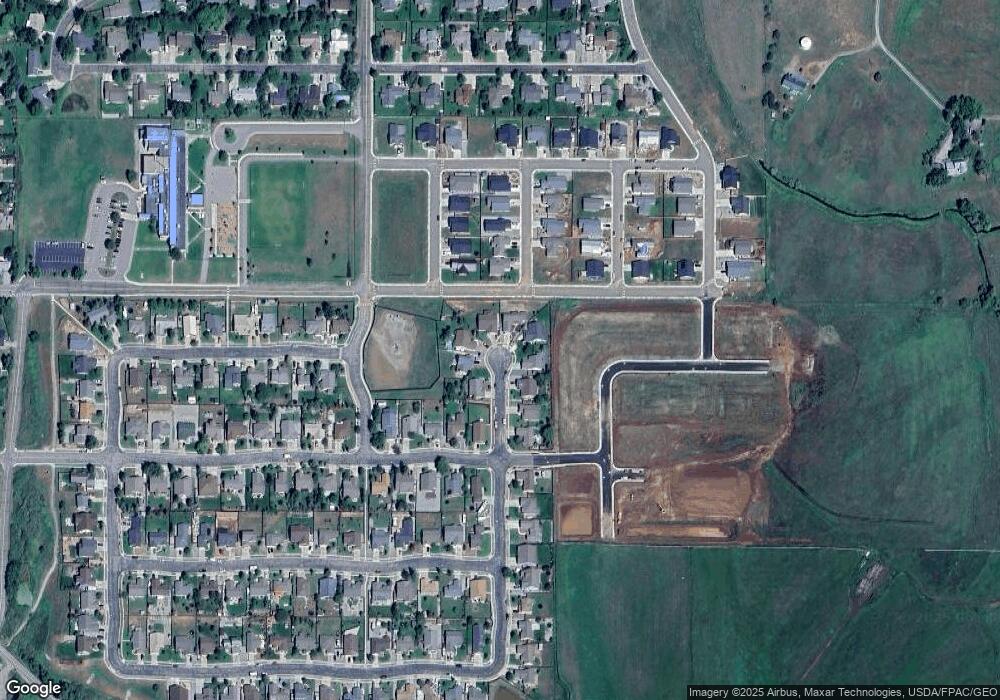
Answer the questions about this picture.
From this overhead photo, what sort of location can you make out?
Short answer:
residential area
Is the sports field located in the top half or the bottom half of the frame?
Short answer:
top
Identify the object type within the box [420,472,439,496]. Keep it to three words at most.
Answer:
house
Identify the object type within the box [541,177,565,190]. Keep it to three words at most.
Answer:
house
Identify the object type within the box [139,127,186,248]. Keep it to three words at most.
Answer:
building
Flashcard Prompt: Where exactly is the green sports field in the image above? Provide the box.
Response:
[249,162,306,248]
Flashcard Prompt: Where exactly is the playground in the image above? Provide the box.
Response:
[217,203,238,255]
